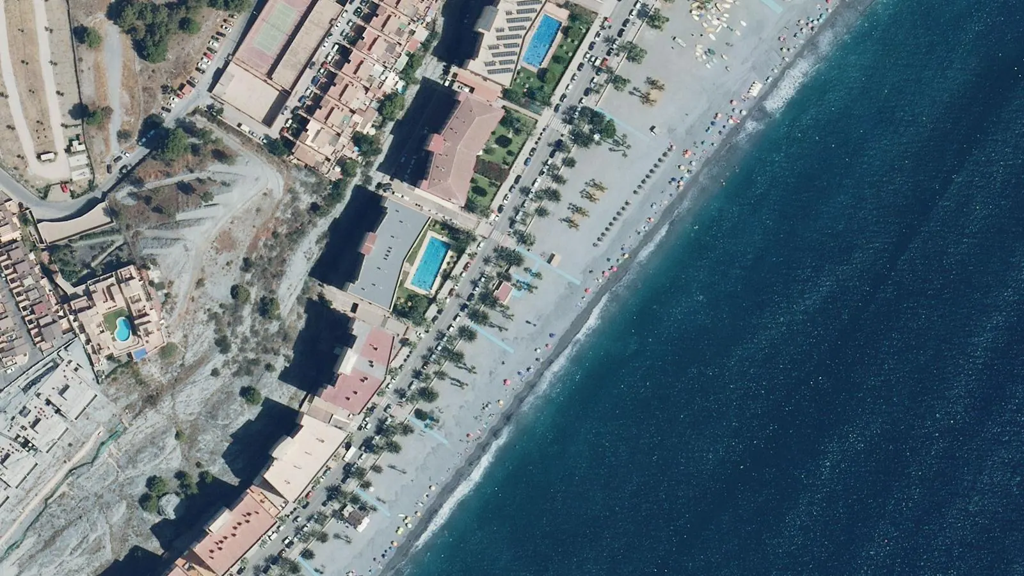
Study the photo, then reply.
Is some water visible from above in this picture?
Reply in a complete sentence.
Yes, there's water in this view.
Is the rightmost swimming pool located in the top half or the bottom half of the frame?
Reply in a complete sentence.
Seen from above, the rightmost swimming pool lies in the top half of the view.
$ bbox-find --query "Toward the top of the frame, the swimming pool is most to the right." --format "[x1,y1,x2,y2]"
[520,2,569,73]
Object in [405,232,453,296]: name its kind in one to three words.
swimming pool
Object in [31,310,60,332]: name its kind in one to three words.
house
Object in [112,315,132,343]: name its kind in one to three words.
swimming pool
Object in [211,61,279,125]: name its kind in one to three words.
building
